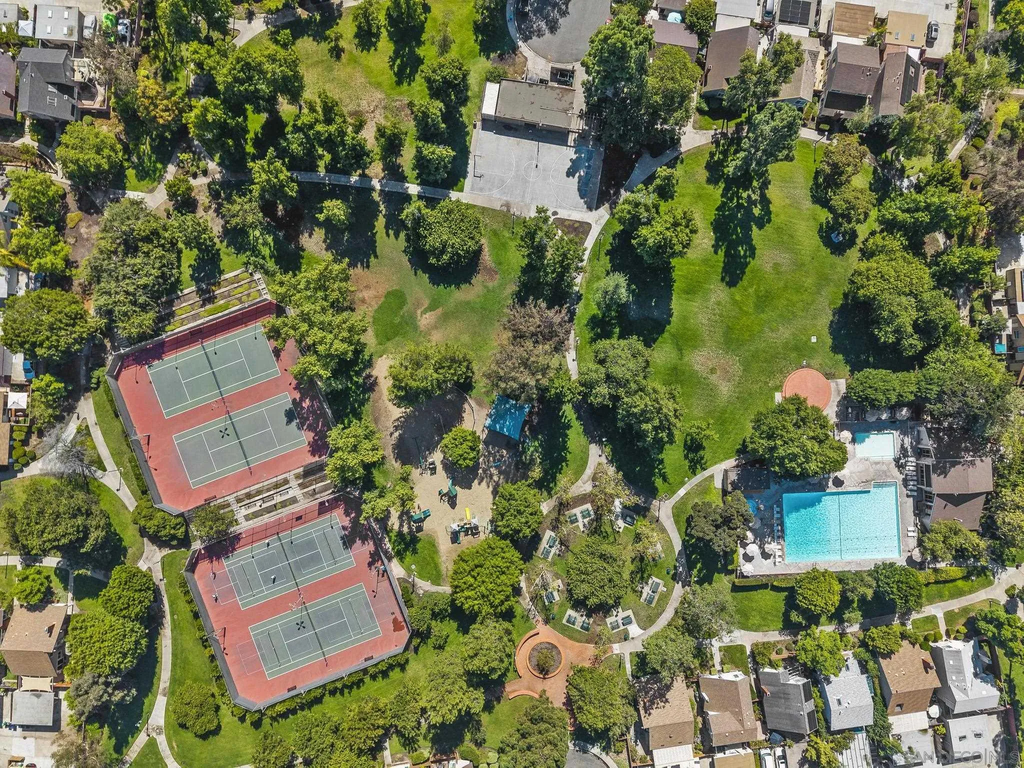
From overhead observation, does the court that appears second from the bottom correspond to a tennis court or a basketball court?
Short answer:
tennis court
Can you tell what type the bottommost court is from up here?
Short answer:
tennis court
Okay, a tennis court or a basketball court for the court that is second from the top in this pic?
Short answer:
tennis court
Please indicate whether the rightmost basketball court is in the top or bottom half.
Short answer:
top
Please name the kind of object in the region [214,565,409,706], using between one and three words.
tennis court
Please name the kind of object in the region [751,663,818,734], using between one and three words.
house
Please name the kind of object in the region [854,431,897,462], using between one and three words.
swimming pool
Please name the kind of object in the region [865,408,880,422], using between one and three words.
umbrella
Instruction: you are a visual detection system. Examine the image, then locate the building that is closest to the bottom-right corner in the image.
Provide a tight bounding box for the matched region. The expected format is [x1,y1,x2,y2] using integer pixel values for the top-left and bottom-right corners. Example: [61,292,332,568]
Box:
[939,710,992,760]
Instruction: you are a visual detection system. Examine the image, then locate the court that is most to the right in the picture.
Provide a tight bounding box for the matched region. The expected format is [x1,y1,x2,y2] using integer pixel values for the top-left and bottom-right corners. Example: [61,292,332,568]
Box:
[469,118,605,210]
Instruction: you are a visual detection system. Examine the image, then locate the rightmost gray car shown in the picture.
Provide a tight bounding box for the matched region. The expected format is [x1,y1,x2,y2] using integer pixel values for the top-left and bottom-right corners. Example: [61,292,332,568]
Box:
[927,17,941,41]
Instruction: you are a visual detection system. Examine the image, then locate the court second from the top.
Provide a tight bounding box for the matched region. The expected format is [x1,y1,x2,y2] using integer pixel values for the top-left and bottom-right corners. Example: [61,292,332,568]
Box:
[116,301,302,438]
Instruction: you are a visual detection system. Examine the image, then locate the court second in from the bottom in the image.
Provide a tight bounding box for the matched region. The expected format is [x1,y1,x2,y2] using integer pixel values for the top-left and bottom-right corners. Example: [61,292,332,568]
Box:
[194,496,384,630]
